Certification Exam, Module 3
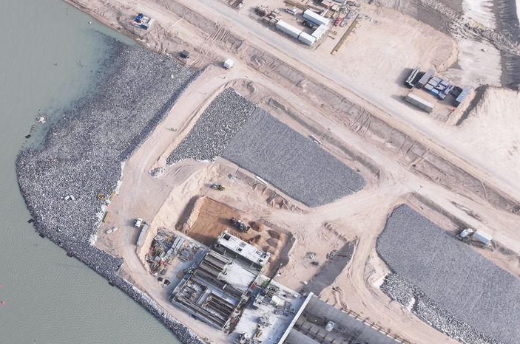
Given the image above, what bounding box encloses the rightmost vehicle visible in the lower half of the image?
[460,226,498,246]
